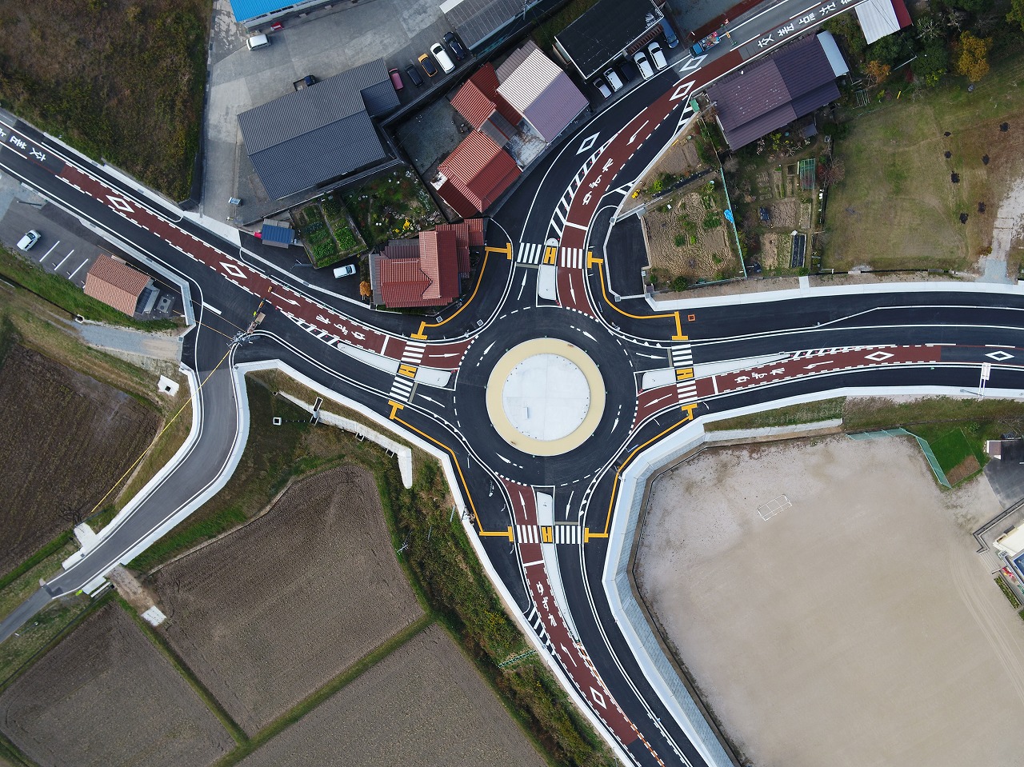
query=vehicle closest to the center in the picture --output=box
[333,264,358,278]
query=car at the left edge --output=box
[17,228,43,253]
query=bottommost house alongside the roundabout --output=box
[370,219,483,307]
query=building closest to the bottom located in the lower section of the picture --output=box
[982,510,1024,557]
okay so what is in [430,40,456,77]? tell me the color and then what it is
white car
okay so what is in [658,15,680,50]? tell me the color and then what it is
blue car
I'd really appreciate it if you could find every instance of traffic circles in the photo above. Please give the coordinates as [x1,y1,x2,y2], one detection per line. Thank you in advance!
[456,307,635,484]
